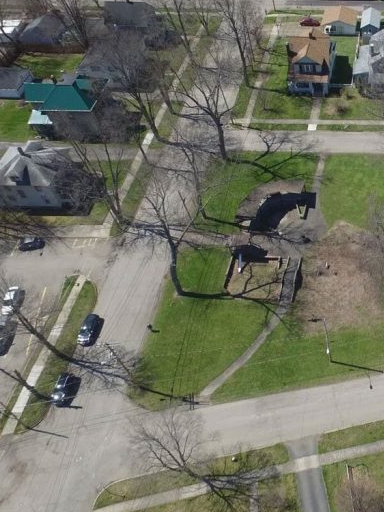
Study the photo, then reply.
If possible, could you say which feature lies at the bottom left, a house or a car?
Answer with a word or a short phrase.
car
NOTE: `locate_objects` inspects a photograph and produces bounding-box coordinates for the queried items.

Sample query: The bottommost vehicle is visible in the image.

[47,371,76,407]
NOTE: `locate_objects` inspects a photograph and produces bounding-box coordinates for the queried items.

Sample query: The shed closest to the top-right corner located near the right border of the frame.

[361,8,381,39]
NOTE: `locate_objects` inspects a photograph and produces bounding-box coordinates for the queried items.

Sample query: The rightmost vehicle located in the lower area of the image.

[74,311,102,346]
